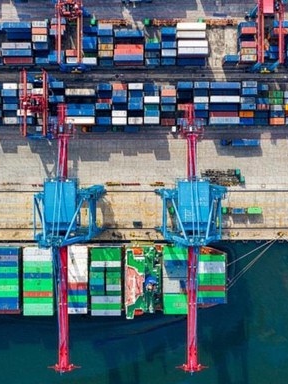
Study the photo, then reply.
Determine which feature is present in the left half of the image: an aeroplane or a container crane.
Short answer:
container crane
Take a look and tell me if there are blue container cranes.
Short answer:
Yes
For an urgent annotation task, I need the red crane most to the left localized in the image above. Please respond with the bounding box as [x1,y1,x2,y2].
[19,69,60,141]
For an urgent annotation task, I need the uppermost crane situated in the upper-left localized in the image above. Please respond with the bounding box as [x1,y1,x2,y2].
[53,0,91,78]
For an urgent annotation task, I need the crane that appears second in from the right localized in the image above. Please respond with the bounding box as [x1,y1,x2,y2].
[151,104,222,378]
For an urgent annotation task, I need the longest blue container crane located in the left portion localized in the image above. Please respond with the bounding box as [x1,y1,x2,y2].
[32,104,110,378]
